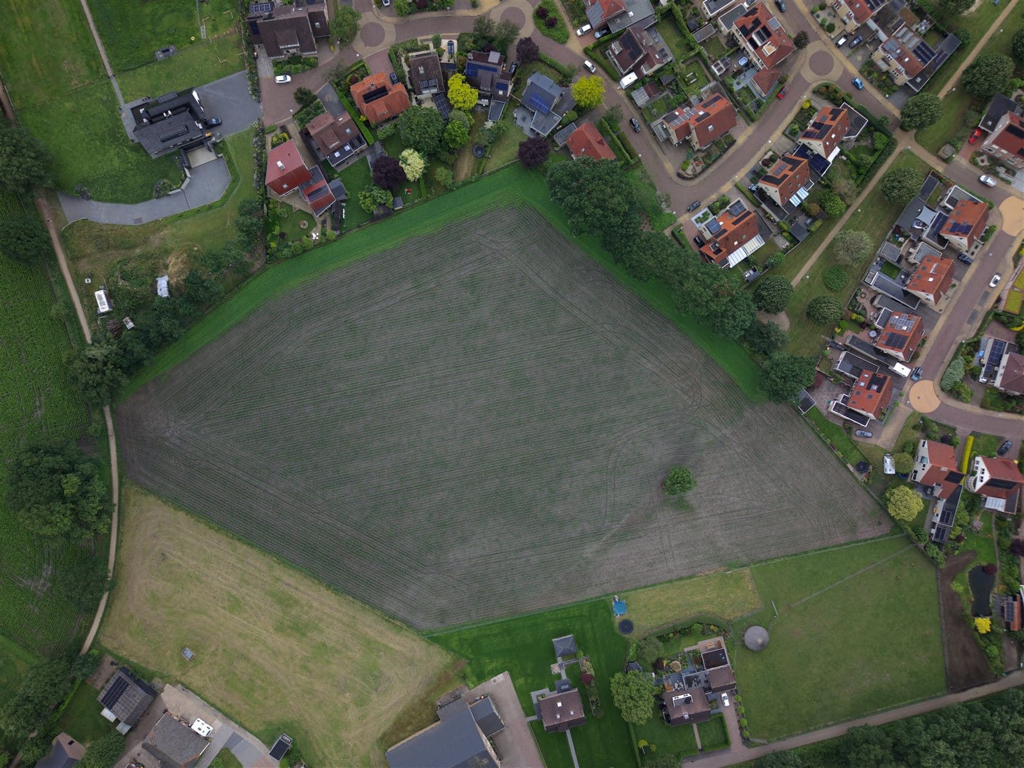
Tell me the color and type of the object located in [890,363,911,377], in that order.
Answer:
white camper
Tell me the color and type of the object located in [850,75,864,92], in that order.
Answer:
blue car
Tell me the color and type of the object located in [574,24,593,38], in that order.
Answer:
white car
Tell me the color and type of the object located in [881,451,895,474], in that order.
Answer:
white camper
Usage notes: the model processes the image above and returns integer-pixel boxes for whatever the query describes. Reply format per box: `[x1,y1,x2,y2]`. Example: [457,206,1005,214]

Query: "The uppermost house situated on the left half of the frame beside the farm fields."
[246,0,331,61]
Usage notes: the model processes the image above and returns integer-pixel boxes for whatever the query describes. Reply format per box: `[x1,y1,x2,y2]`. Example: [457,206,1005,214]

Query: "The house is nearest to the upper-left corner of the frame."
[132,86,217,169]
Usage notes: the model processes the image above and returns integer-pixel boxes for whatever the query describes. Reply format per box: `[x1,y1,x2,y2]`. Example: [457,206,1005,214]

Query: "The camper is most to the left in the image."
[98,289,113,311]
